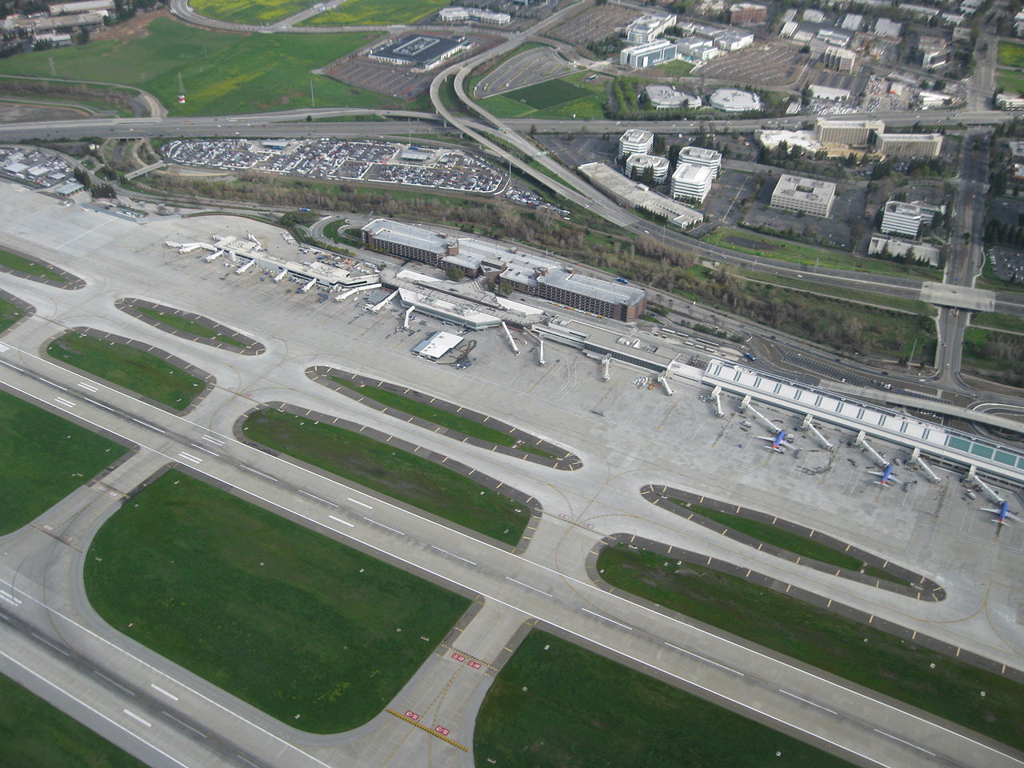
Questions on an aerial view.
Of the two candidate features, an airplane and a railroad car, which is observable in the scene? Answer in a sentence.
Visible in the photo is an airplane.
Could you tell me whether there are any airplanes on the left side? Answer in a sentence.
No, no airplane appears on the left side.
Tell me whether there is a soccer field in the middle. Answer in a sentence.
No, no soccer field appears in the middle.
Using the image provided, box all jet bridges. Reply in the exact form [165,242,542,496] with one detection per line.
[919,455,941,484]
[203,248,226,262]
[210,234,225,242]
[163,241,219,252]
[333,282,383,302]
[403,306,416,328]
[604,354,611,381]
[975,472,1005,502]
[301,281,315,294]
[235,259,257,276]
[716,396,724,417]
[178,242,204,255]
[747,403,775,430]
[370,289,399,316]
[501,321,520,355]
[246,233,262,247]
[862,437,889,466]
[809,420,833,448]
[273,270,286,283]
[539,338,545,364]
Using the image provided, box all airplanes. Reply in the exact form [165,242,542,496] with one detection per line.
[756,429,798,451]
[977,500,1024,526]
[863,463,908,487]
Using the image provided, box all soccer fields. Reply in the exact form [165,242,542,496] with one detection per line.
[498,79,593,110]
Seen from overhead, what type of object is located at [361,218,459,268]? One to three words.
building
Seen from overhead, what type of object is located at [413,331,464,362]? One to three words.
shed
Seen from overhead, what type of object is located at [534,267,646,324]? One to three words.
building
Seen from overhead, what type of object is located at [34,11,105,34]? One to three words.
shed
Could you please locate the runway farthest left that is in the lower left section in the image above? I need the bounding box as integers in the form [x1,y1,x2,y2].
[0,582,333,768]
